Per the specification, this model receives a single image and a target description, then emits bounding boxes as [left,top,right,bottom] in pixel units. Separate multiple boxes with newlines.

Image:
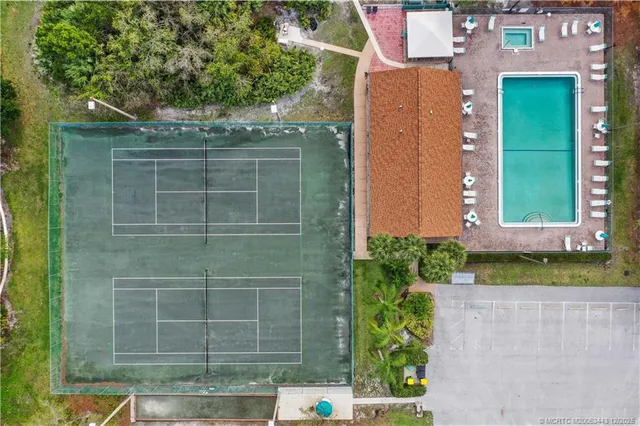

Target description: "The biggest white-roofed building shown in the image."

[404,11,454,63]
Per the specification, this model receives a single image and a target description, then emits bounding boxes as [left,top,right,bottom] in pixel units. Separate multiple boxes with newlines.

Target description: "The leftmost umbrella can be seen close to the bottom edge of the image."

[315,400,332,417]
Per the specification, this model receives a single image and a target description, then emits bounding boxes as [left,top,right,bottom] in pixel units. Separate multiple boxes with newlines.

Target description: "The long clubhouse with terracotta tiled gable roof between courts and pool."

[369,66,464,238]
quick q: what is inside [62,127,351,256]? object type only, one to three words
tennis court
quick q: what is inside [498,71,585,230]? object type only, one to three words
swimming pool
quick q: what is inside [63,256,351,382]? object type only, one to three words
tennis court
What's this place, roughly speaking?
sports ground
